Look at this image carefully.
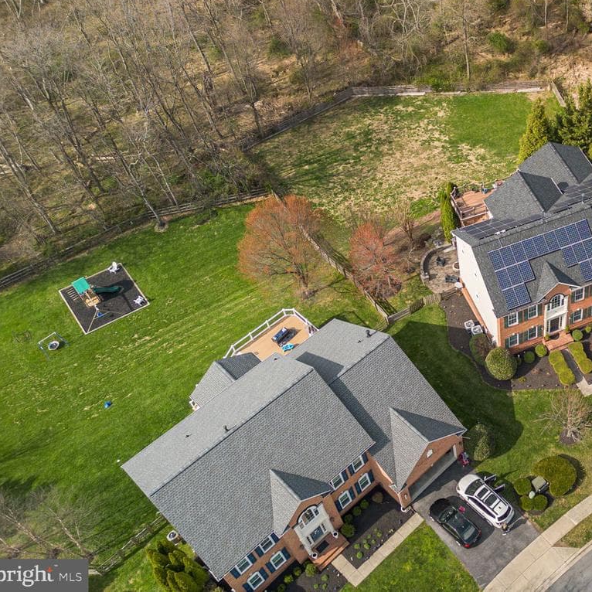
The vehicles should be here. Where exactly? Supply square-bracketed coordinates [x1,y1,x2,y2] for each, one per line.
[453,473,514,530]
[423,495,483,555]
